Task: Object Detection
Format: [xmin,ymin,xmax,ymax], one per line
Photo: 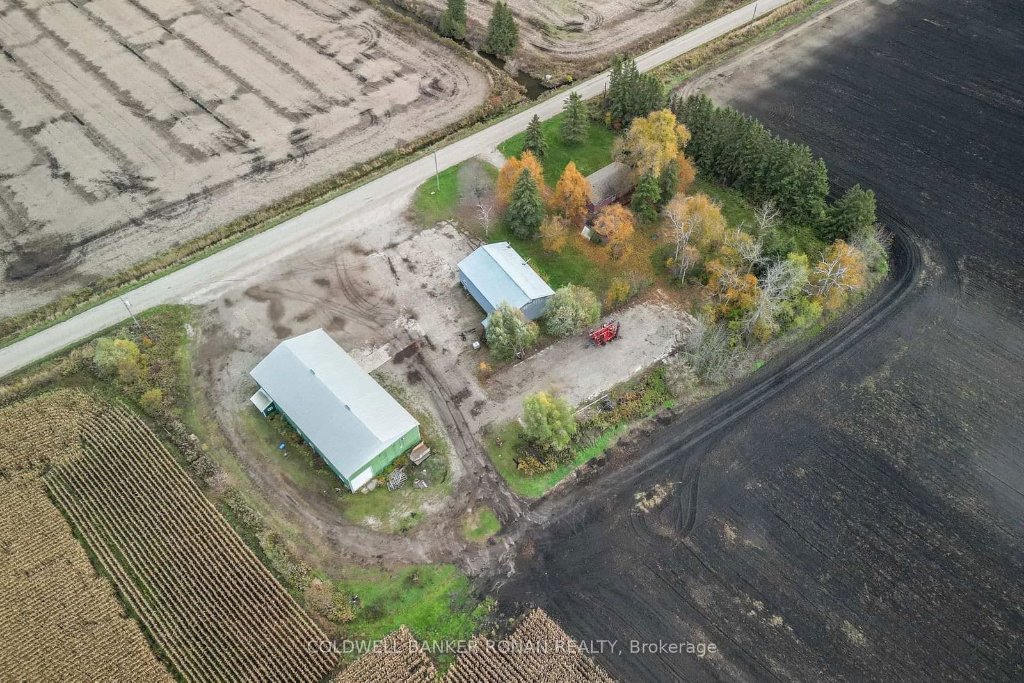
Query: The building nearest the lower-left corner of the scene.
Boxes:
[248,330,422,491]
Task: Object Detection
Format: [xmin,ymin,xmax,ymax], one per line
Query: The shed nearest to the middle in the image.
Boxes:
[457,243,556,337]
